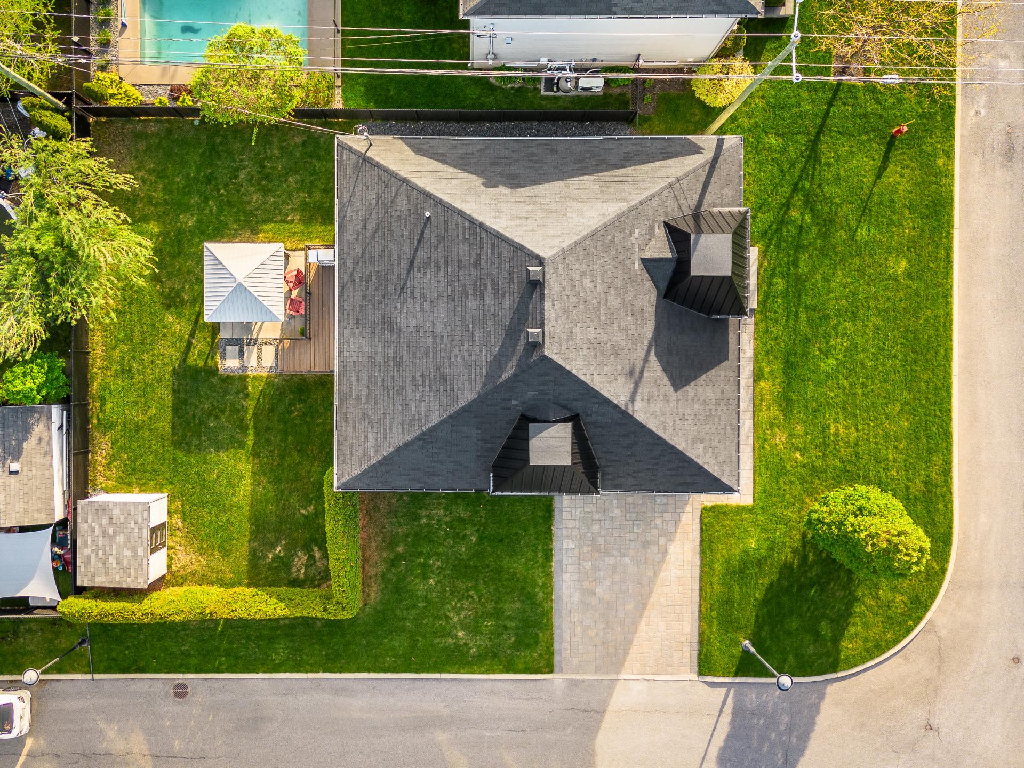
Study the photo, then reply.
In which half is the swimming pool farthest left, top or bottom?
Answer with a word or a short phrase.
top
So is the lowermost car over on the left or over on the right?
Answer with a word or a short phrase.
left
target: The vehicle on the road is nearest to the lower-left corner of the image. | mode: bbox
[0,686,35,737]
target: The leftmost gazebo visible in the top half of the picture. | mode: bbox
[204,242,295,323]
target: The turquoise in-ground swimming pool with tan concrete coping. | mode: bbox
[119,0,341,85]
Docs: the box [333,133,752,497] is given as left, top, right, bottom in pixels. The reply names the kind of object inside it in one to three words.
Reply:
house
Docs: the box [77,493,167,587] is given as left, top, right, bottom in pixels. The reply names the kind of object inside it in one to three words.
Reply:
shed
